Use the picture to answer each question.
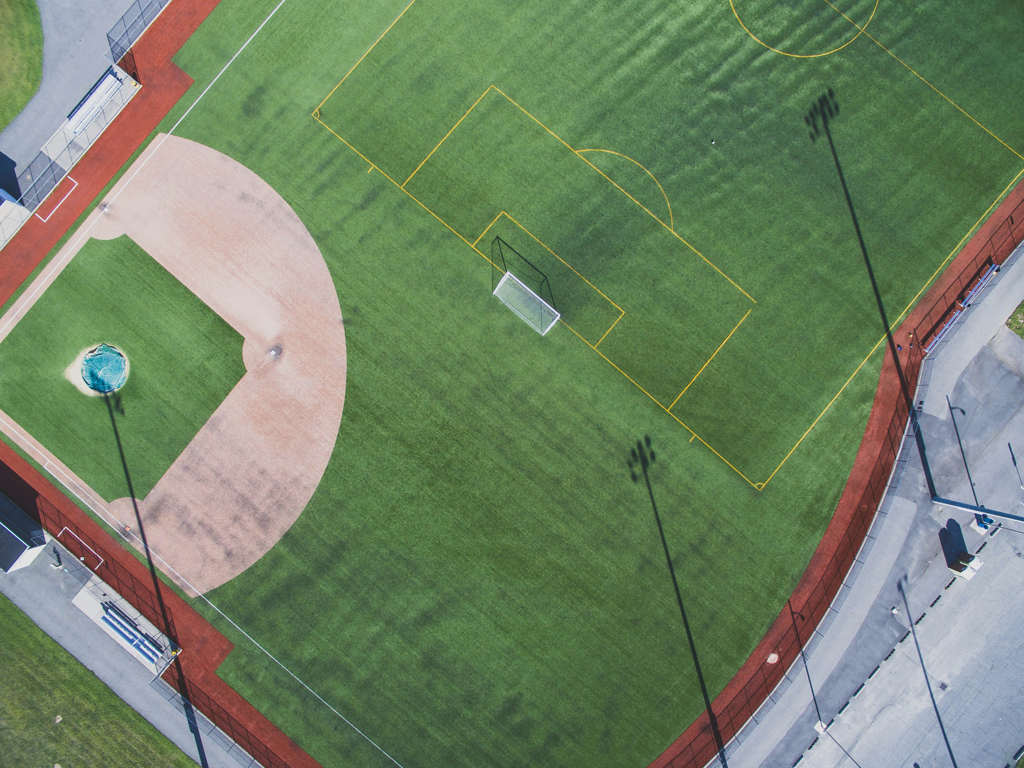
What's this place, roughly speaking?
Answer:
sports ground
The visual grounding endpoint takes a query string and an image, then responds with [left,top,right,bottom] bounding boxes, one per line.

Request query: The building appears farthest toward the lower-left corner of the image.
[0,502,46,581]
